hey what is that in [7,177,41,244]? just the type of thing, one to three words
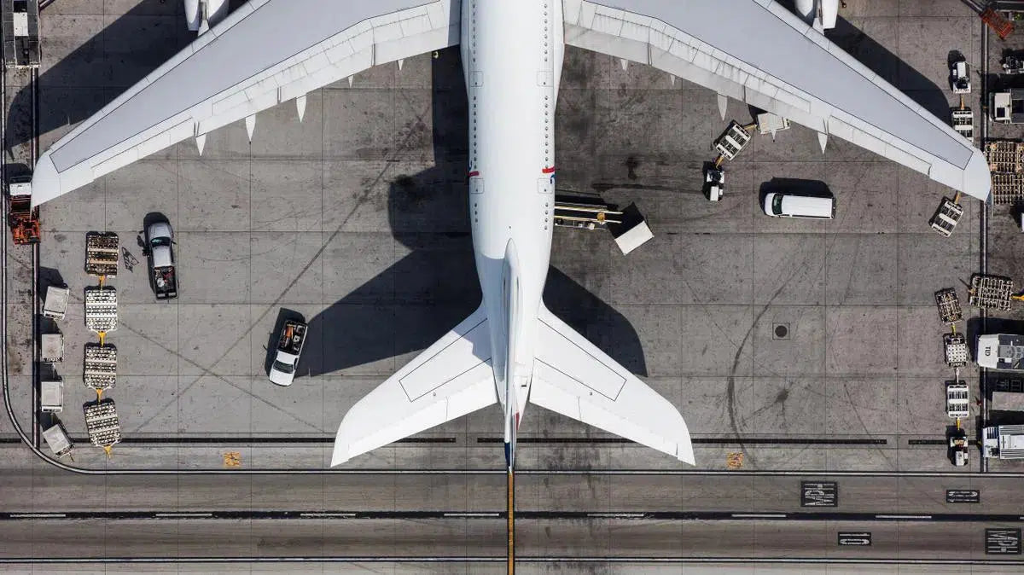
truck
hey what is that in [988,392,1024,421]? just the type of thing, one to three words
trailer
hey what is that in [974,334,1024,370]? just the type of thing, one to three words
work vehicle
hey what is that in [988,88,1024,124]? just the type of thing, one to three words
truck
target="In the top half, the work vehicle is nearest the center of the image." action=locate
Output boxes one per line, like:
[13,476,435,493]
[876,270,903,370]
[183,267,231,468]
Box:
[552,203,624,236]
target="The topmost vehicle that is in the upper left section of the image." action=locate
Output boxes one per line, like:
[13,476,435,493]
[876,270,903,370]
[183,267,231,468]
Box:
[3,0,42,68]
